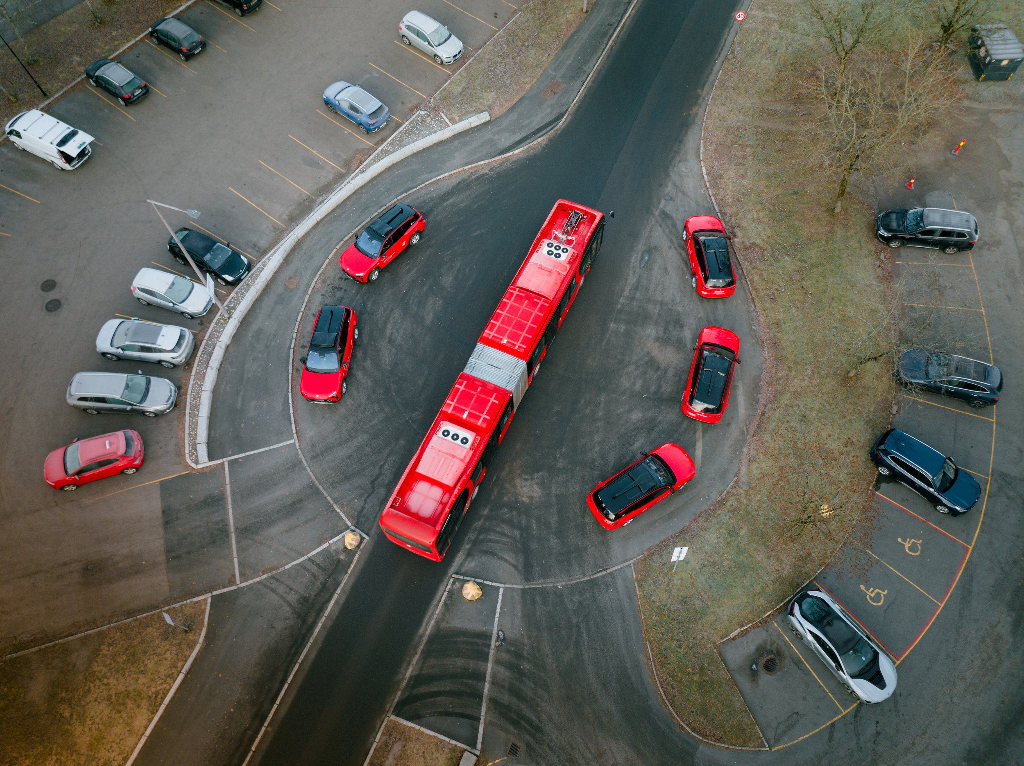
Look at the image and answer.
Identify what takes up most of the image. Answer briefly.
paved ground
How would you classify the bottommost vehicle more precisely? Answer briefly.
car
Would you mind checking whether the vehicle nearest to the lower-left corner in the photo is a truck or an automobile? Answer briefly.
automobile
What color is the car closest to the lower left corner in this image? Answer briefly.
red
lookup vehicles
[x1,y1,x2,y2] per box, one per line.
[63,369,176,417]
[869,428,987,519]
[298,308,358,412]
[6,110,94,172]
[382,202,617,563]
[336,204,425,289]
[42,431,144,491]
[94,315,196,368]
[586,443,701,530]
[684,215,739,303]
[148,17,210,61]
[681,325,741,427]
[788,592,906,714]
[895,347,1011,408]
[400,10,466,64]
[85,58,150,106]
[126,265,218,319]
[325,83,393,134]
[167,228,252,286]
[878,205,980,254]
[219,0,266,15]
